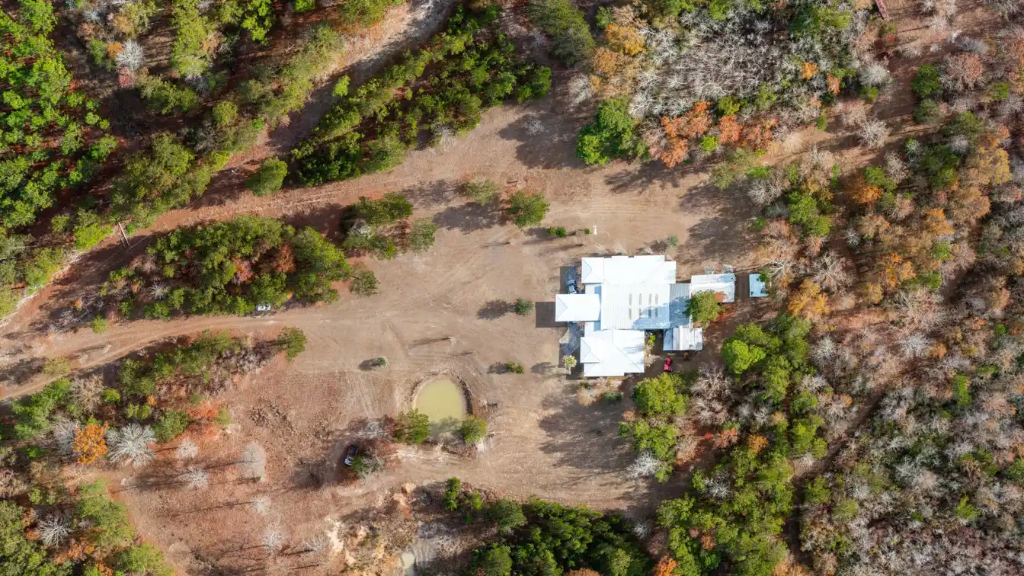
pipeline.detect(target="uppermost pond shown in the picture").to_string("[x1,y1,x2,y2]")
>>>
[416,380,467,444]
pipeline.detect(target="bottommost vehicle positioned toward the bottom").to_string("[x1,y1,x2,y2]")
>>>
[344,443,358,466]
